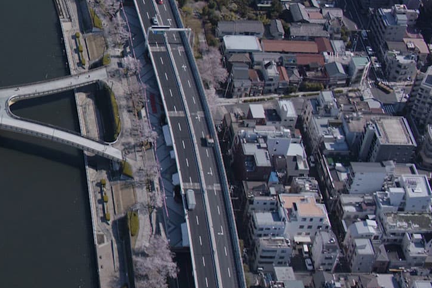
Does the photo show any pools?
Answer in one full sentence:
No, there's no pool here.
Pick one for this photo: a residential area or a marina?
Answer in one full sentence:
This looks like a residential area.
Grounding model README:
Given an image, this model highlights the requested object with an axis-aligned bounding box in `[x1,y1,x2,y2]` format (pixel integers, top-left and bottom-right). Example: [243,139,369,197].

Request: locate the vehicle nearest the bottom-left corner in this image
[188,188,200,212]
